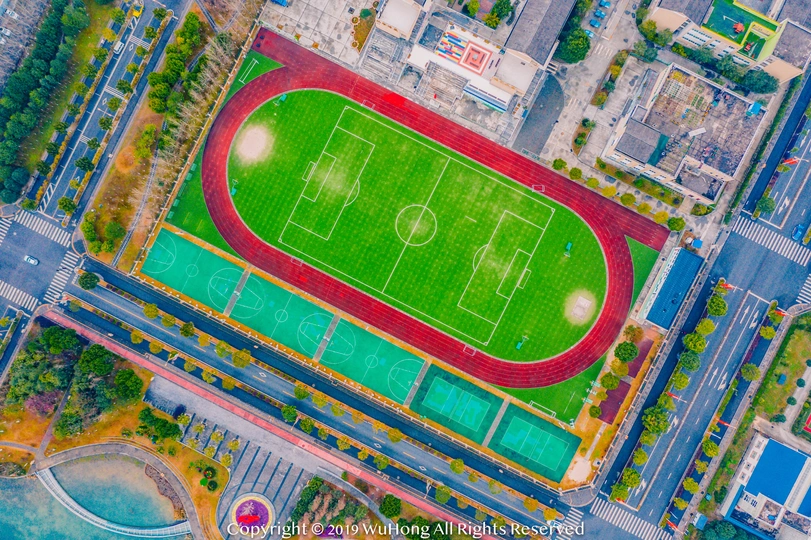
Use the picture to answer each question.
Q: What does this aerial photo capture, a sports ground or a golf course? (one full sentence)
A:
The area seen from above is a sports ground.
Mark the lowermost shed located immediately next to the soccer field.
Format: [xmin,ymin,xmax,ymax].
[636,247,704,331]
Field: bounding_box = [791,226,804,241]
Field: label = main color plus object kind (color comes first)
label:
blue vehicle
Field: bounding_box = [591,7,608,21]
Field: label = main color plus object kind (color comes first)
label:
blue vehicle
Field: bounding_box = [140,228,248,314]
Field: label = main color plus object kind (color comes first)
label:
green basketball court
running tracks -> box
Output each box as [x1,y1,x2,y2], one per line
[198,27,671,390]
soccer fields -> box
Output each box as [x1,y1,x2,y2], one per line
[227,89,606,361]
